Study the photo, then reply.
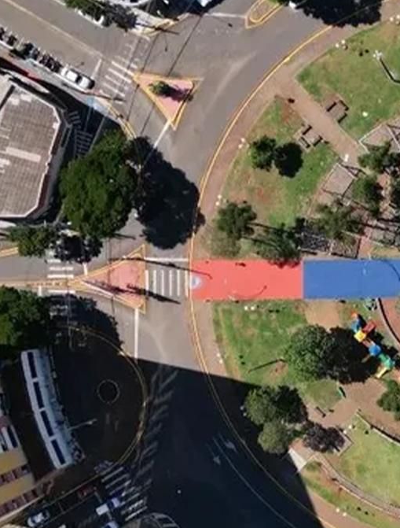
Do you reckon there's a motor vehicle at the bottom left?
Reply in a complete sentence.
Yes, a motor vehicle shows up at the bottom left.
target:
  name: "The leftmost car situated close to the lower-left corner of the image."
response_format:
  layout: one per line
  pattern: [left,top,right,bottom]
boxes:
[22,507,53,528]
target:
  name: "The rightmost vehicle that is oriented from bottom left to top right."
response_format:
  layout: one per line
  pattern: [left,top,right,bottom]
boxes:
[92,496,123,519]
